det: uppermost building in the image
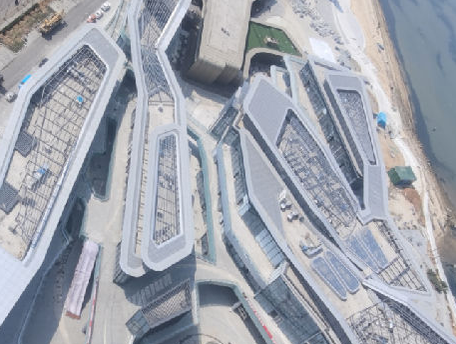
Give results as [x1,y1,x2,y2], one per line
[183,0,252,90]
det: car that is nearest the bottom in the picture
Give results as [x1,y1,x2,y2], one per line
[2,89,20,101]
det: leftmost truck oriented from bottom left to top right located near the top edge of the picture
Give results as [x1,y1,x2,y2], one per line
[39,7,68,31]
